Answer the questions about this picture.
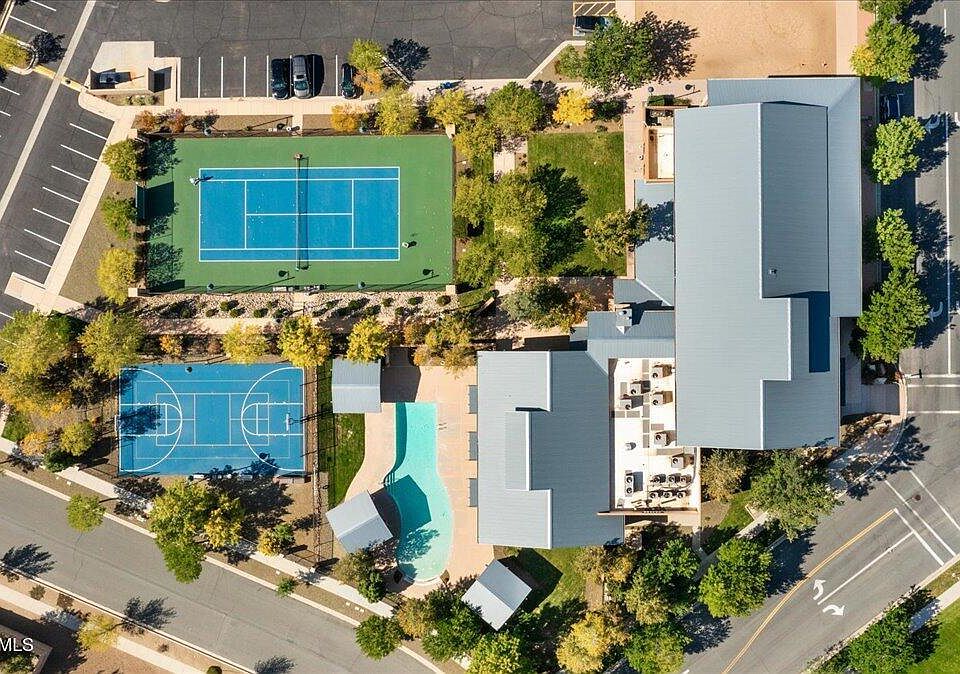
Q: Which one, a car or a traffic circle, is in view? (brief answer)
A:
car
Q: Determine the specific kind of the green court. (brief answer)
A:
tennis court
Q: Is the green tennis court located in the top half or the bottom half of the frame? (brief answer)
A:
top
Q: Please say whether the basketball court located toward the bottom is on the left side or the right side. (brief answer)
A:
left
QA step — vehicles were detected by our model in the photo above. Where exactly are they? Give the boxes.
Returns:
[293,53,312,98]
[573,13,616,33]
[272,57,291,97]
[881,87,902,126]
[342,62,358,98]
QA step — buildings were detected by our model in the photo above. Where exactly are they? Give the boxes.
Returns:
[462,558,532,630]
[331,357,381,413]
[326,491,392,553]
[469,78,862,549]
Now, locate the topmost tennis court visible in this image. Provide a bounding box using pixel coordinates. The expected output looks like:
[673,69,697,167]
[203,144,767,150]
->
[145,135,453,292]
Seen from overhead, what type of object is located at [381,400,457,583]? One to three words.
swimming pool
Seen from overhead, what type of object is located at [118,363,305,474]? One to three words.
basketball court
